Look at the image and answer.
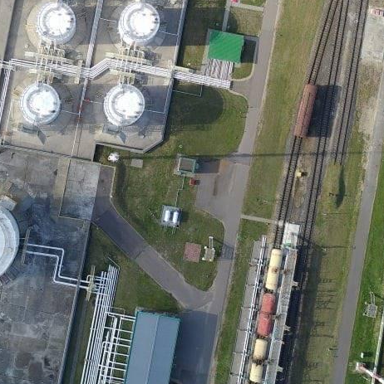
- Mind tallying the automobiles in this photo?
0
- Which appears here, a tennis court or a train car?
train car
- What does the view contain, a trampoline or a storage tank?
storage tank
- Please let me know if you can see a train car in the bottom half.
Yes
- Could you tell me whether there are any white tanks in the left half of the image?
Yes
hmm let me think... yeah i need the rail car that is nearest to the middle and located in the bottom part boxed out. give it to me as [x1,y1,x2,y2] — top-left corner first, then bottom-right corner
[265,246,285,291]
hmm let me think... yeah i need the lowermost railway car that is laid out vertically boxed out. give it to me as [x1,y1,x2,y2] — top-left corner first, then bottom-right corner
[246,335,267,382]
